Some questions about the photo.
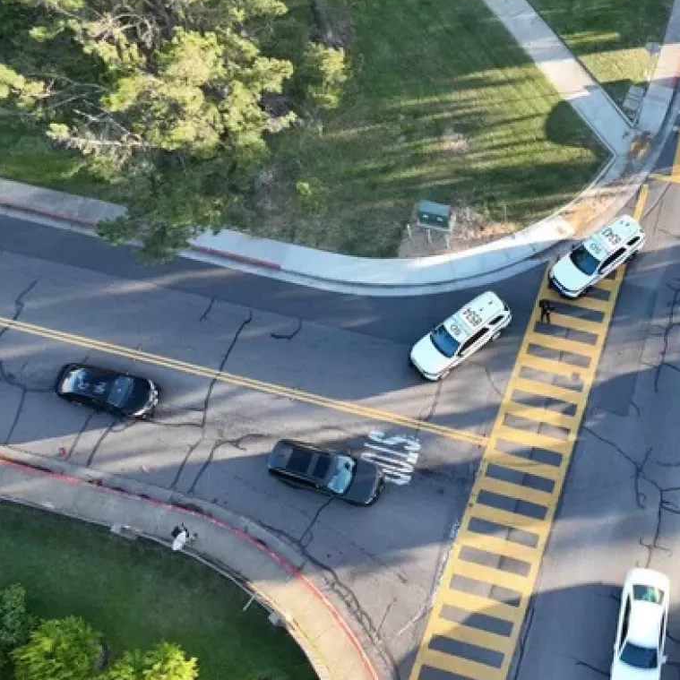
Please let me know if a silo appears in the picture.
No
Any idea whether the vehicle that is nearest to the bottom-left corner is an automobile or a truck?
automobile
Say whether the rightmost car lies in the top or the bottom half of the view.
bottom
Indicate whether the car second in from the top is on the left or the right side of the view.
right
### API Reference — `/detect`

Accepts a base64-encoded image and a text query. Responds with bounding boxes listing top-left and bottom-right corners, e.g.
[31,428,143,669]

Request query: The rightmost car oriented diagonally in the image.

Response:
[552,215,651,300]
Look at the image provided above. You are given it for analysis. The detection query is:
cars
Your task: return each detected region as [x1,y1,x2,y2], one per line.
[552,215,651,300]
[410,291,516,382]
[611,569,670,680]
[48,366,166,422]
[263,439,386,511]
